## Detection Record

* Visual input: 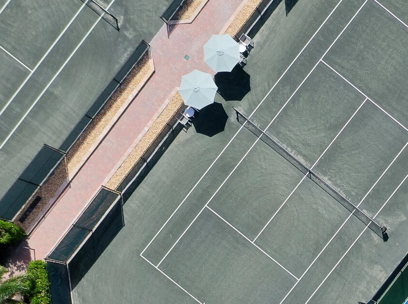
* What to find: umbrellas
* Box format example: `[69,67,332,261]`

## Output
[180,71,217,109]
[202,34,242,74]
